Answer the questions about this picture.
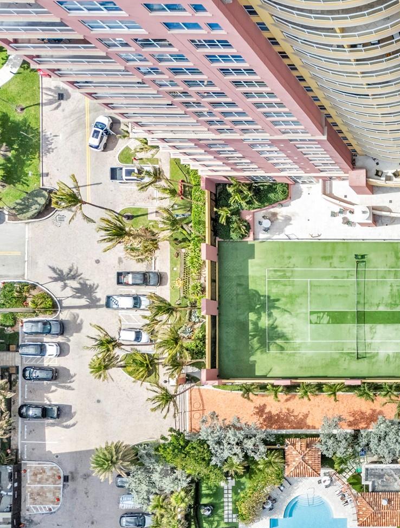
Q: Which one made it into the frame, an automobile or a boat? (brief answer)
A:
automobile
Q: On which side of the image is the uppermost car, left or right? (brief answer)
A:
left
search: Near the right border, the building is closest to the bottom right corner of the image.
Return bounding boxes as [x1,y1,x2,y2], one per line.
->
[358,491,400,528]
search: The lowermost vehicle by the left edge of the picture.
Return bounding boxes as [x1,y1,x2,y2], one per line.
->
[18,402,63,421]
